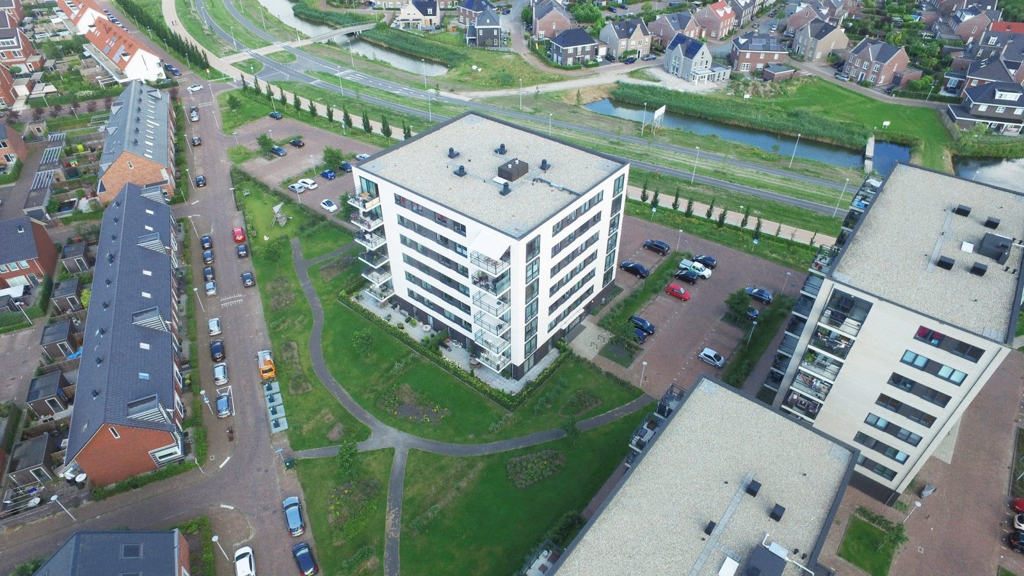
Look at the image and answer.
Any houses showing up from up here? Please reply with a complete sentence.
Yes, a house is visible in the scene.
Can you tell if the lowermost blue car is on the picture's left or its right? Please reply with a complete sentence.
The lowermost blue car is on the left side of the image.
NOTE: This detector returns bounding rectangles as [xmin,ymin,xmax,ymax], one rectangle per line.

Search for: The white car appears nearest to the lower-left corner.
[230,542,257,576]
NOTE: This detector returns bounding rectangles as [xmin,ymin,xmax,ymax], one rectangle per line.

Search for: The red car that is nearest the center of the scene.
[663,281,693,301]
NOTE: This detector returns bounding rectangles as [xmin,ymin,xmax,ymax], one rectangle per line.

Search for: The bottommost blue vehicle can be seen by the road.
[291,536,319,576]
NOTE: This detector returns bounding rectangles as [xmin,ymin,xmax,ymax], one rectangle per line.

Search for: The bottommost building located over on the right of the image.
[521,377,859,576]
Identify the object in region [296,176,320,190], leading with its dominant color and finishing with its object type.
white car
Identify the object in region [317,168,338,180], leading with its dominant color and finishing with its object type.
blue vehicle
